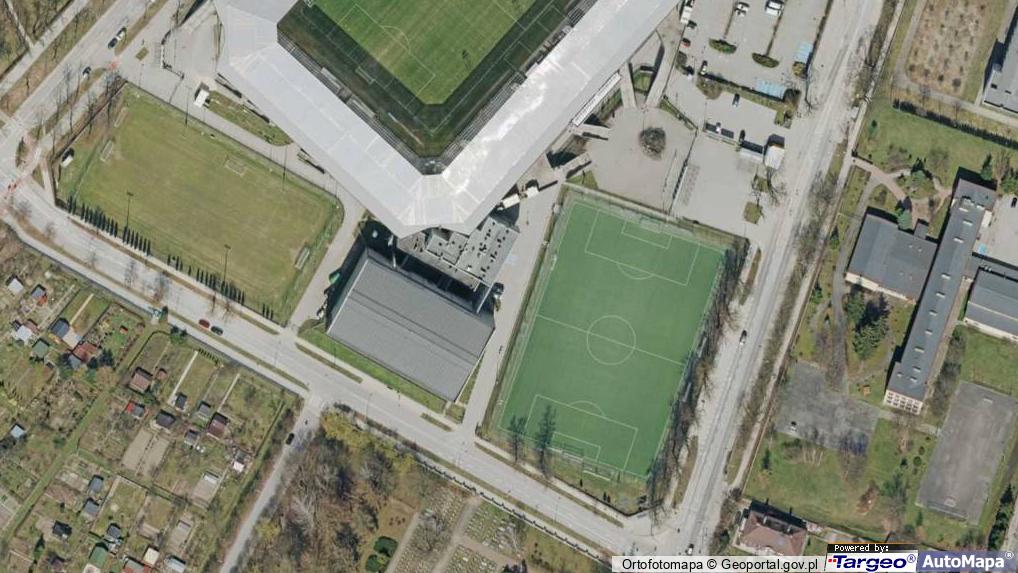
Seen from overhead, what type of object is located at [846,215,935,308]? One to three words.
building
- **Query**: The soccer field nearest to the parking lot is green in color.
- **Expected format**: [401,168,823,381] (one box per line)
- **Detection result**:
[494,199,727,480]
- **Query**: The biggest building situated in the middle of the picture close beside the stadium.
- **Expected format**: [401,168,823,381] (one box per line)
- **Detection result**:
[323,248,494,404]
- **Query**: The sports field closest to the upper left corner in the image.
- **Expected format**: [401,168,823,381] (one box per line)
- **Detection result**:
[72,99,323,318]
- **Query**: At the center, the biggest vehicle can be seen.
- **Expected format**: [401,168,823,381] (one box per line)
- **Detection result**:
[492,281,508,293]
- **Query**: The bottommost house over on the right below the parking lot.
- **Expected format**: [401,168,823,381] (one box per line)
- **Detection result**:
[730,512,807,564]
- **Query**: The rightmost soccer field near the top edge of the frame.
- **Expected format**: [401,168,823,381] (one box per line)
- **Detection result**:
[294,0,564,143]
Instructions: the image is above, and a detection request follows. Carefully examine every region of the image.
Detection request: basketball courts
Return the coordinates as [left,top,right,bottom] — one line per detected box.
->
[917,381,1018,525]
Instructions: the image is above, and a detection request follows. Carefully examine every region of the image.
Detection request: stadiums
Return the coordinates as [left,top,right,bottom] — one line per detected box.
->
[215,0,691,241]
